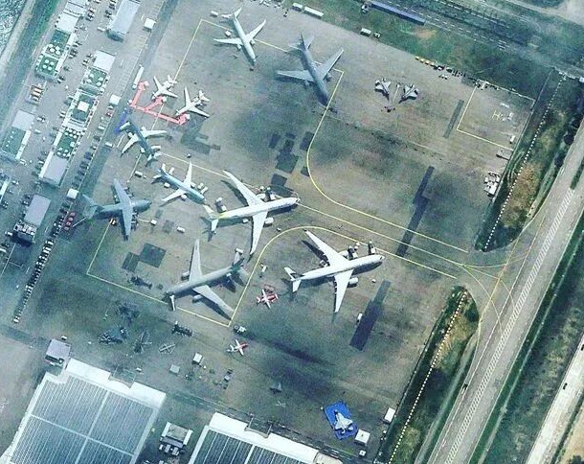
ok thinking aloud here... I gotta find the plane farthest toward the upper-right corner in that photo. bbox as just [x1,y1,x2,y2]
[399,83,417,103]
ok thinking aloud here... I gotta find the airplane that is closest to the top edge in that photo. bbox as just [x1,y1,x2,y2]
[218,9,270,63]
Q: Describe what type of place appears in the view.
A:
airport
